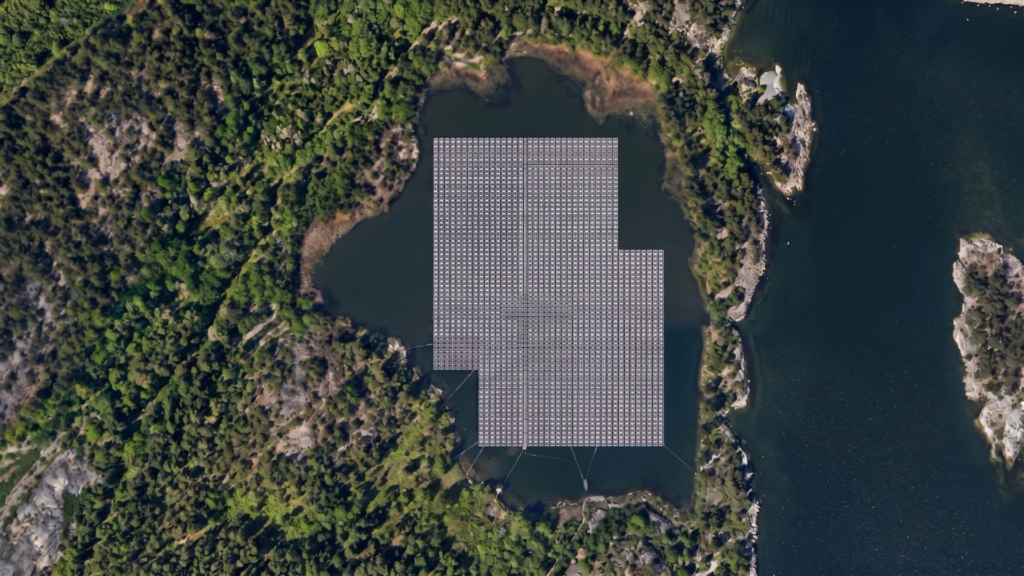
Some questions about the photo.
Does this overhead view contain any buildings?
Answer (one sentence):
No, the scene contains no building.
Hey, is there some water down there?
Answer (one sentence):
Yes, there is water in the image.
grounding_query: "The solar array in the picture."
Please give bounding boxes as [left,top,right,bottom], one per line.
[434,138,665,452]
